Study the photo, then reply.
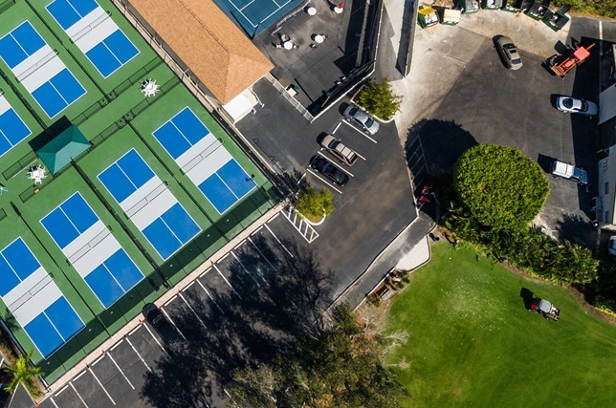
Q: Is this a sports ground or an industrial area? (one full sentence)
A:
The area seen from above is a sports ground.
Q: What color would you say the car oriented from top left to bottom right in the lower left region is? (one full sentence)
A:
The color of the car oriented from top left to bottom right in the lower left region is black.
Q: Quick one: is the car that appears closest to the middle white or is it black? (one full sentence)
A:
The car that appears closest to the middle is black.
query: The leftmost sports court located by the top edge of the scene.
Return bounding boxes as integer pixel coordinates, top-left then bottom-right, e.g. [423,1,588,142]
[0,19,87,119]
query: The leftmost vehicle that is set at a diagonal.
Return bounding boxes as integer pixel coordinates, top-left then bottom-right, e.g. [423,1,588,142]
[144,304,178,346]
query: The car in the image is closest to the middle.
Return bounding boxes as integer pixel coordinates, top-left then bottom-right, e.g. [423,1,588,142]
[309,157,349,186]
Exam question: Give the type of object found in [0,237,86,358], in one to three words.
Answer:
sports court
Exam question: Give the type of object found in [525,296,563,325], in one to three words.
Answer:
work vehicle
